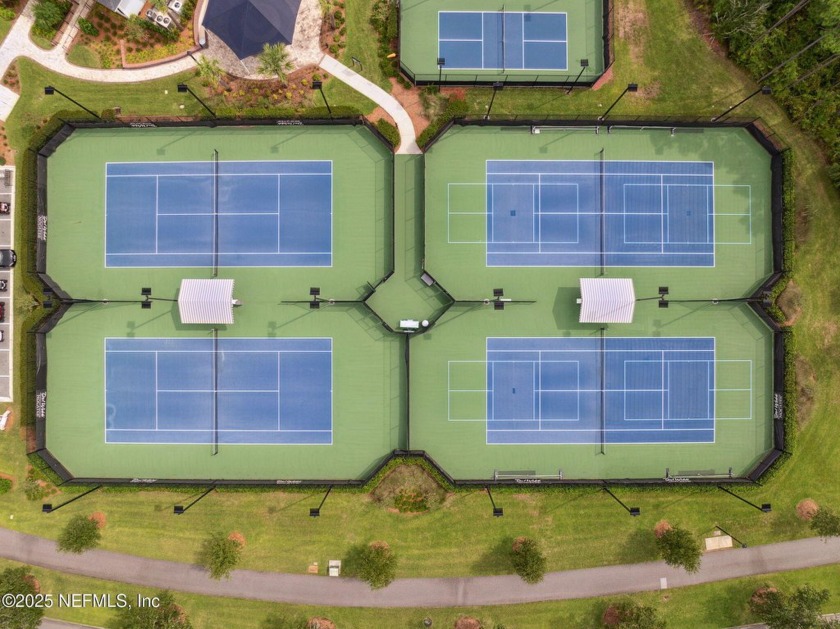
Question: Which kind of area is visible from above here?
sports ground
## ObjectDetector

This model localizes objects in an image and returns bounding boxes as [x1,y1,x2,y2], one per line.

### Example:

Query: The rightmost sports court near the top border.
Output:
[401,0,605,86]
